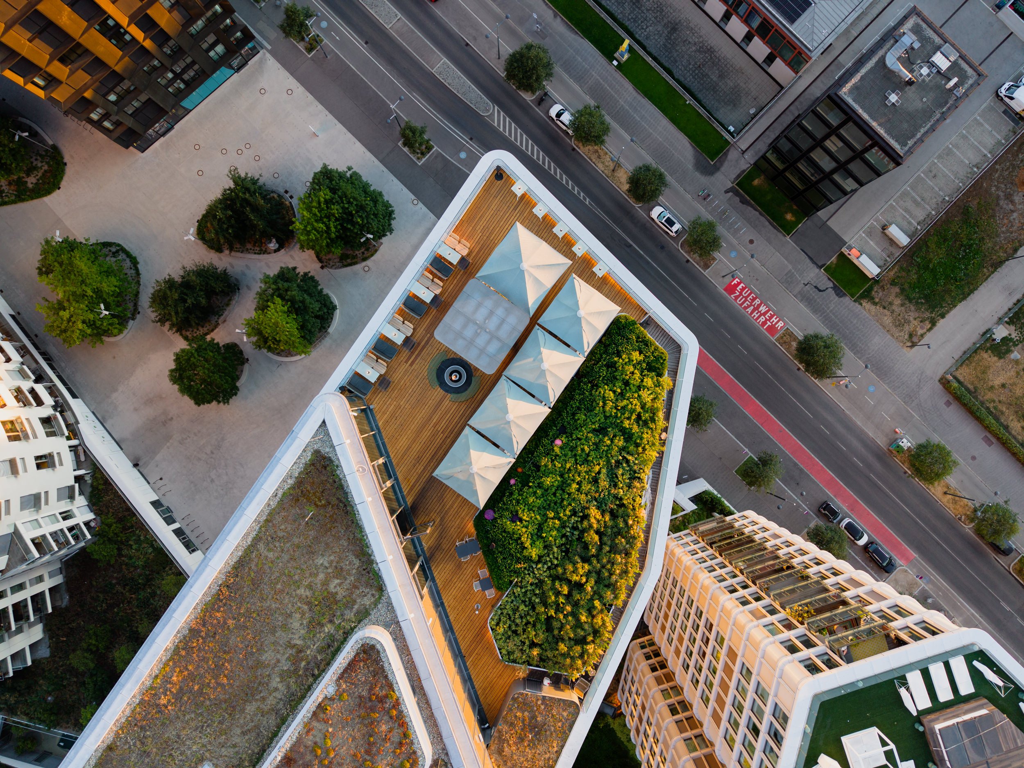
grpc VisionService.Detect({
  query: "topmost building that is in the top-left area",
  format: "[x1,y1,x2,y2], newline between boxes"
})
[0,0,258,156]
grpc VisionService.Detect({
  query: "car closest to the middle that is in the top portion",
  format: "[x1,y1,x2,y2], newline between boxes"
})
[646,202,686,241]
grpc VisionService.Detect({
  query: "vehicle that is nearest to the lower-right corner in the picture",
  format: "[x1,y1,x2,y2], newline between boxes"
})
[979,531,1018,565]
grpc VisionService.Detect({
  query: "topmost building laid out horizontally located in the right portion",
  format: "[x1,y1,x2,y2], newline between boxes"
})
[691,0,873,88]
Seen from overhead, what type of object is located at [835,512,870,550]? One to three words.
car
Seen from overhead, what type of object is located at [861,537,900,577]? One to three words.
car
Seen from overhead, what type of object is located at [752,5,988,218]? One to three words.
building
